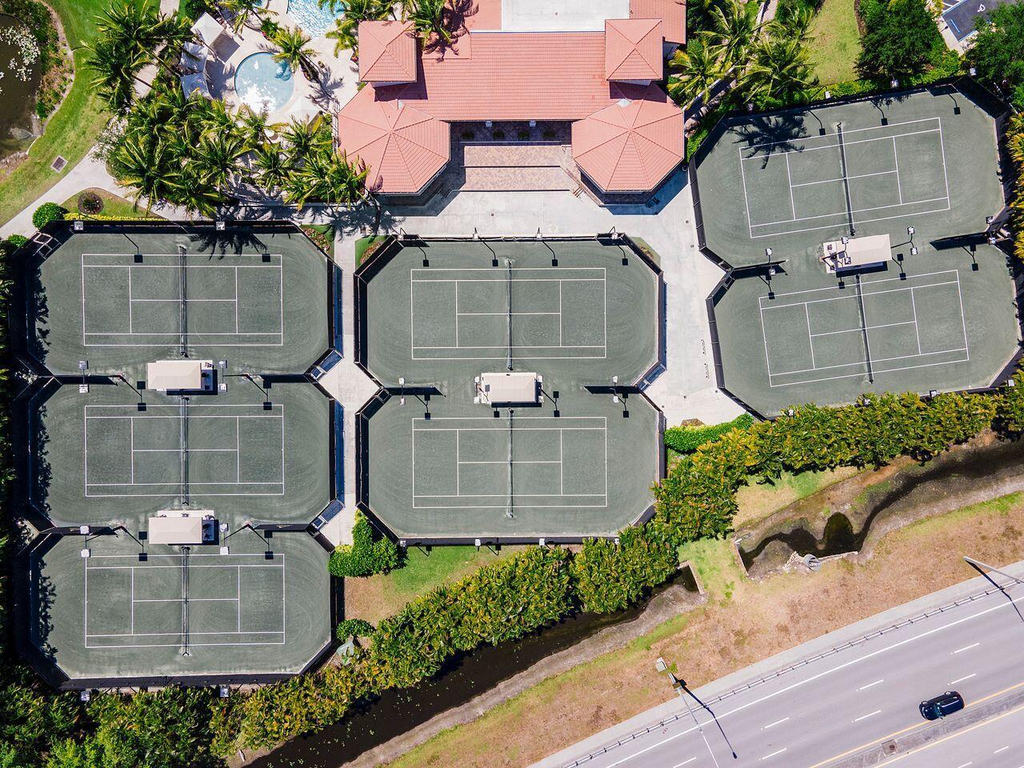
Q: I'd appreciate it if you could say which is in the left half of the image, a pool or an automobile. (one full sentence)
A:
The one visible in the left half of the image is a pool.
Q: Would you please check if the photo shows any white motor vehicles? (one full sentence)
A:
No, the picture doesn't show any white motor vehicle.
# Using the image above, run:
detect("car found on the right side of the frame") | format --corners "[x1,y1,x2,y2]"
[924,693,967,721]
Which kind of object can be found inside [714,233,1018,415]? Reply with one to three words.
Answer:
tennis court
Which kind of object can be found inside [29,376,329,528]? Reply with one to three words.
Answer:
tennis court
